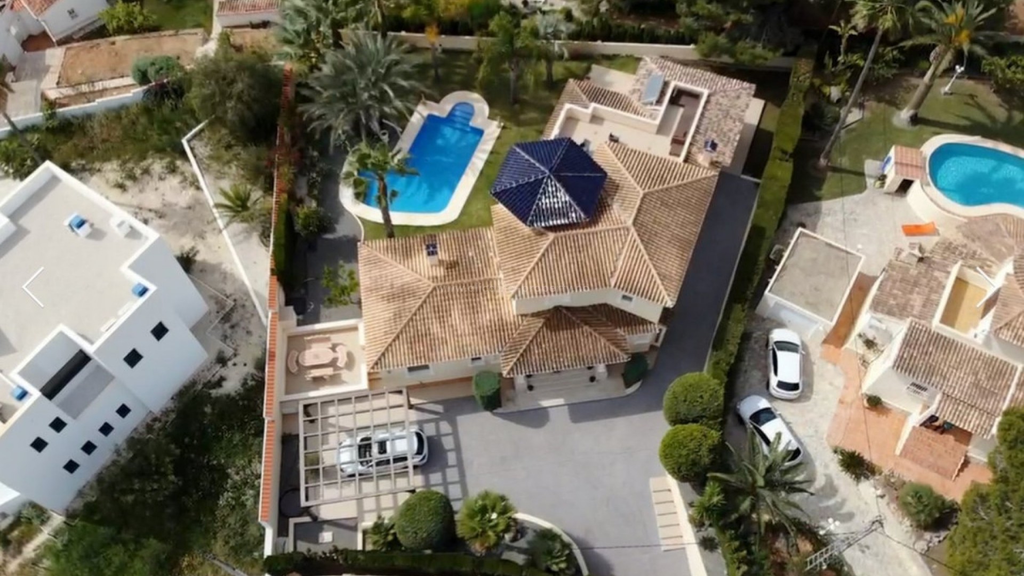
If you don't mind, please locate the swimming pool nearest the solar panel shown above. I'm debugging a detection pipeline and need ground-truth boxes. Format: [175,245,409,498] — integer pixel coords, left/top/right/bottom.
[339,90,504,226]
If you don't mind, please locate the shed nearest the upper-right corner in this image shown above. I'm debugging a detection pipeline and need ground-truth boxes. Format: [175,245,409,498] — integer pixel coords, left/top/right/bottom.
[882,146,924,196]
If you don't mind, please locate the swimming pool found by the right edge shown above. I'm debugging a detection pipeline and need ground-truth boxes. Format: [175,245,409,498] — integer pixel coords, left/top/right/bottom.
[908,134,1024,235]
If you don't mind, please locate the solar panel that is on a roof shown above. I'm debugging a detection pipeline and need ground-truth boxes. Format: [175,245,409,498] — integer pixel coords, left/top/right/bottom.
[643,72,663,103]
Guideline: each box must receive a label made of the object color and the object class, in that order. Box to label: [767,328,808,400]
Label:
white car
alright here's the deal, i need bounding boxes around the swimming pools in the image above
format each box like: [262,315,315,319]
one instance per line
[908,134,1024,235]
[339,90,504,226]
